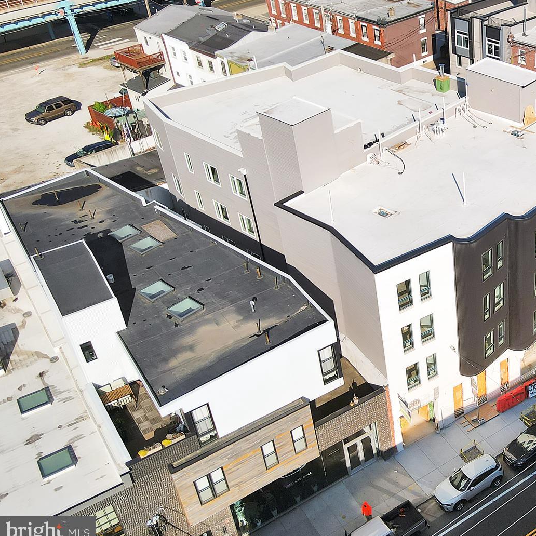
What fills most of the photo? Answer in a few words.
buildings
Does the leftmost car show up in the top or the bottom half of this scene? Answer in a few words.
top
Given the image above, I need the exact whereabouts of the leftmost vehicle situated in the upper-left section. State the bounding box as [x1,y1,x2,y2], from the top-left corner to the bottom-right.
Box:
[21,95,77,126]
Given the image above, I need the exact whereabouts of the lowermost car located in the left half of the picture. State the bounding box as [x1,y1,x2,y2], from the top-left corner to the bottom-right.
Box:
[60,134,118,168]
